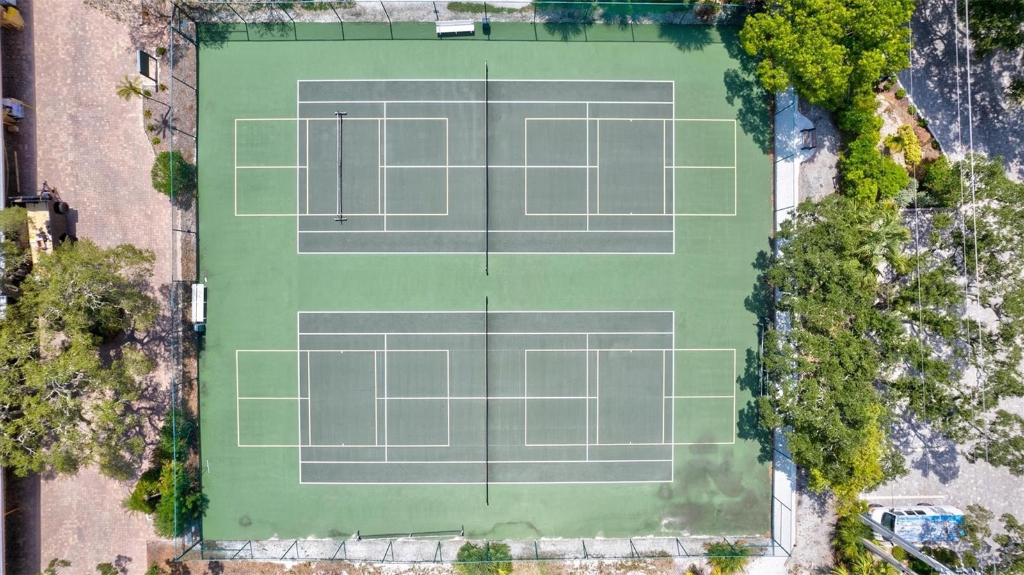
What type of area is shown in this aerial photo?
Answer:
sports ground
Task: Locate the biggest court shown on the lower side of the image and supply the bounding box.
[199,283,772,542]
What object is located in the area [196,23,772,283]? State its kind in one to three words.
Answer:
tennis court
